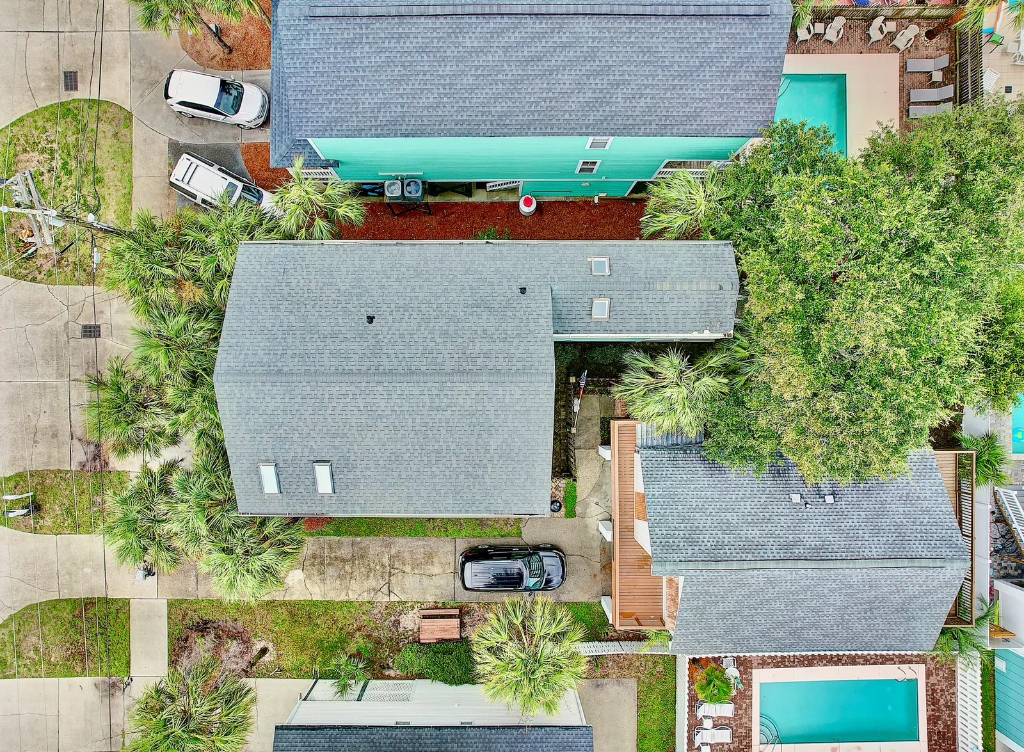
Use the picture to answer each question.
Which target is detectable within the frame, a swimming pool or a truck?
swimming pool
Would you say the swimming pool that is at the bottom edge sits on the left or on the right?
right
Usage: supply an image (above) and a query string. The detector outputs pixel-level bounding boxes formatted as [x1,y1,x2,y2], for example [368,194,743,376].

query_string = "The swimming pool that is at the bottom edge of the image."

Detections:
[752,664,929,752]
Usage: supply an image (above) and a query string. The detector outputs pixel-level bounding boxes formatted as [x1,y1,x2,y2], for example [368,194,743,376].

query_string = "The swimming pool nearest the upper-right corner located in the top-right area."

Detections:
[737,54,899,270]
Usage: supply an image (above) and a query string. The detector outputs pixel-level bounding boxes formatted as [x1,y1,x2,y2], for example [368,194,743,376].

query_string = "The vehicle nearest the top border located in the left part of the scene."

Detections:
[162,65,272,131]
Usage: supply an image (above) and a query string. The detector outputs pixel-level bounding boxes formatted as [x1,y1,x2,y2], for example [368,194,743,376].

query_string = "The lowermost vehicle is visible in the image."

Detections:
[456,544,568,598]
